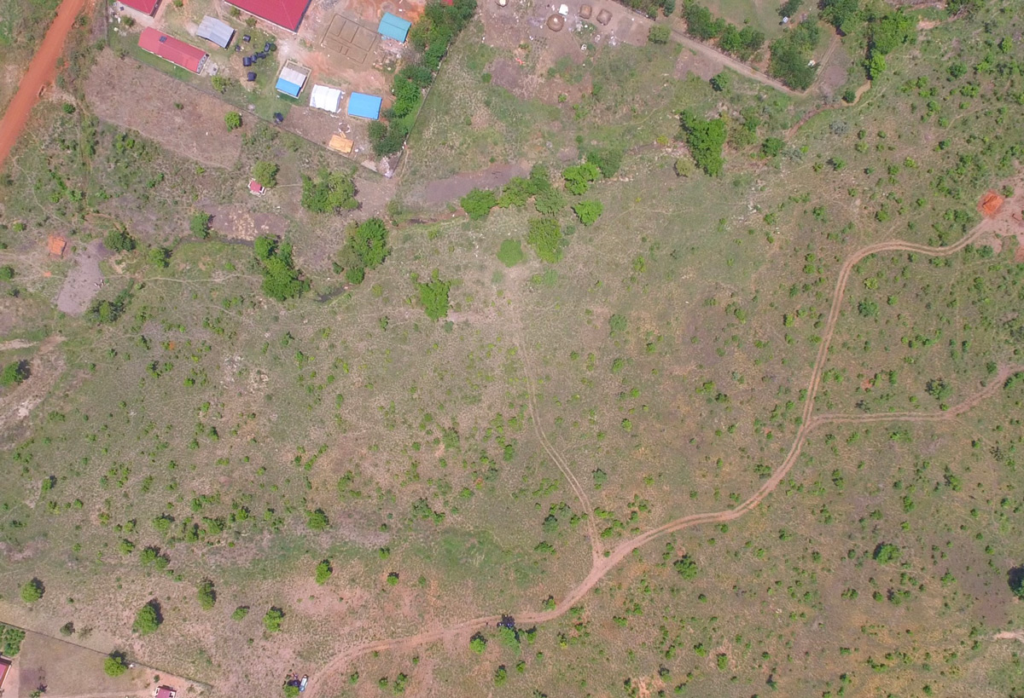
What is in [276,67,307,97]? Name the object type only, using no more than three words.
house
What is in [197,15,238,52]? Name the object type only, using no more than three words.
shed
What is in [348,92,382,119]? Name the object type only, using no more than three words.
shed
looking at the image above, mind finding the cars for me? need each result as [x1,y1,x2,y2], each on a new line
[287,679,302,688]
[299,674,309,692]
